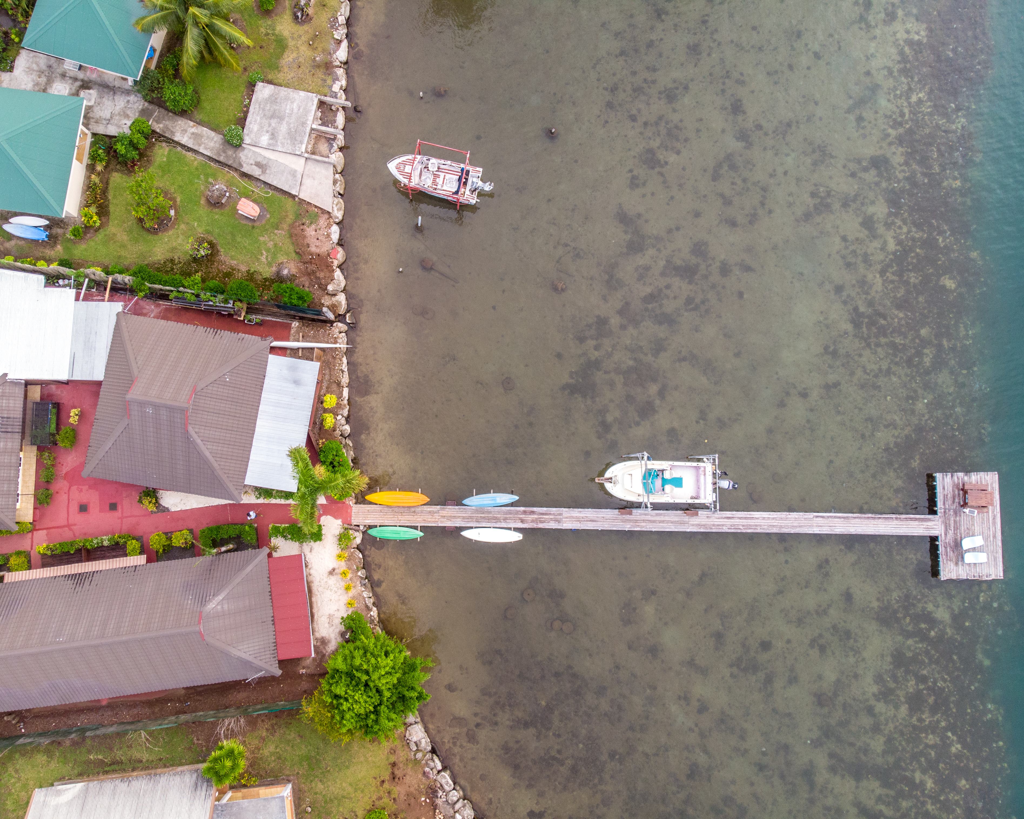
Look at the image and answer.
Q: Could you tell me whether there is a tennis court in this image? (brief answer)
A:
No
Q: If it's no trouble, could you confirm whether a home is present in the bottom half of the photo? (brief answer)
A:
Yes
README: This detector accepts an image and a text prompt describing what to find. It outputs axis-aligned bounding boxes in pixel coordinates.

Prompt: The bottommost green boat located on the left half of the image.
[367,526,424,540]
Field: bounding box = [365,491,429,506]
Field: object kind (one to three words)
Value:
boat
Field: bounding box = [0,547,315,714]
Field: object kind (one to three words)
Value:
house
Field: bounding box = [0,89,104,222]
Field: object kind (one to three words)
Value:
building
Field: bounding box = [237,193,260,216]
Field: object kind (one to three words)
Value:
boat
